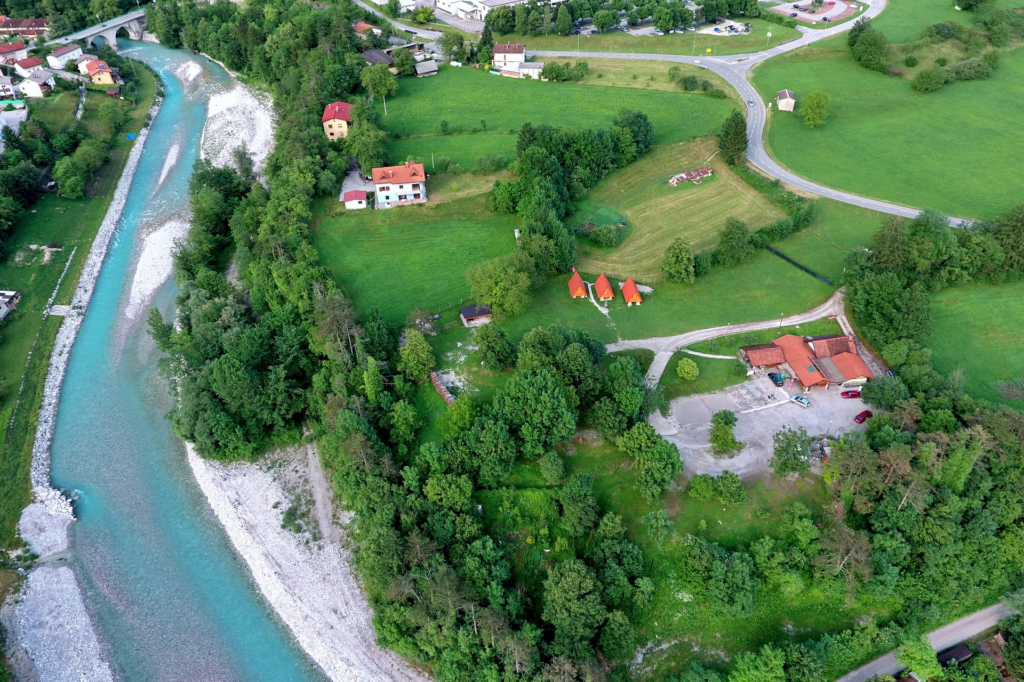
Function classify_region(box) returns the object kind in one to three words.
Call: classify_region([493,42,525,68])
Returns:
house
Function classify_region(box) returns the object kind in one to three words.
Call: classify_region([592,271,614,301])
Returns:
building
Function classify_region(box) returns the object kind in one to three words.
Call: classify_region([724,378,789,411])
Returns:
sports court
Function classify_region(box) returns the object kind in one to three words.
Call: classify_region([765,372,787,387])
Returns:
car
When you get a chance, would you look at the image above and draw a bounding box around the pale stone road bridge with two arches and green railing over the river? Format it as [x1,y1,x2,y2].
[22,9,155,52]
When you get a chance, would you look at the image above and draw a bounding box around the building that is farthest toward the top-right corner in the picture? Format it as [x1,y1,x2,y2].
[775,88,796,111]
